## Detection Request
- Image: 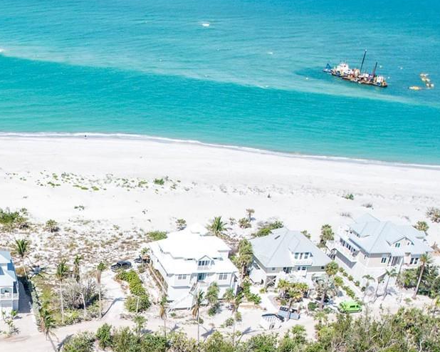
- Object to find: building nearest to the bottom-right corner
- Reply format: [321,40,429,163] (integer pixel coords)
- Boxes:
[329,213,438,297]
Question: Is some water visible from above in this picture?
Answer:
Yes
